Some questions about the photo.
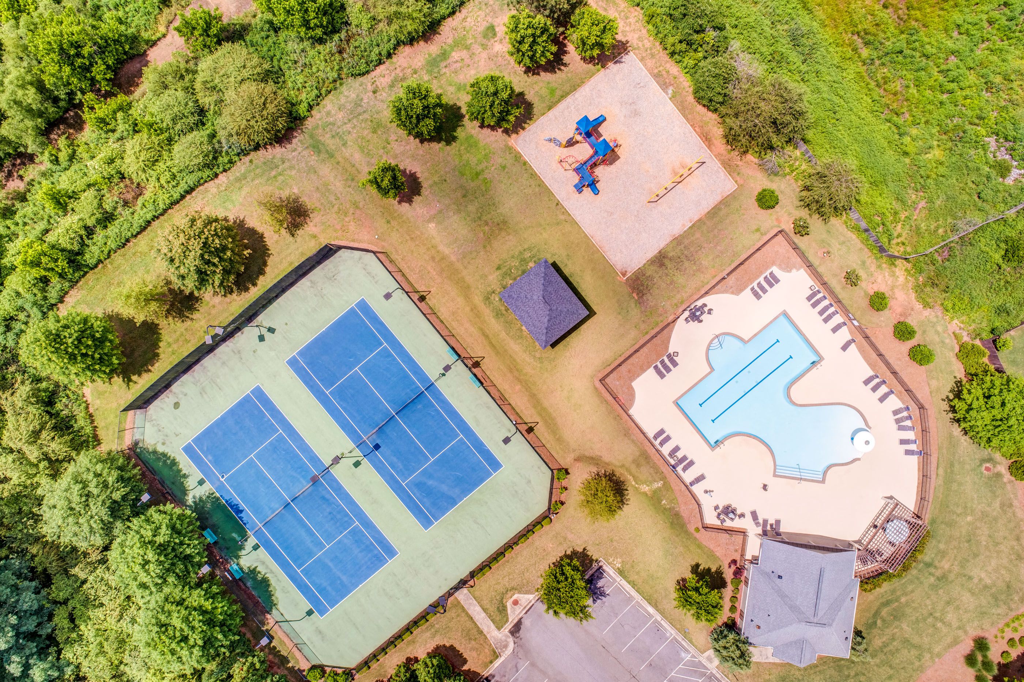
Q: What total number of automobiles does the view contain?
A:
0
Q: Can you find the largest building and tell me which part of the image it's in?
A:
bottom right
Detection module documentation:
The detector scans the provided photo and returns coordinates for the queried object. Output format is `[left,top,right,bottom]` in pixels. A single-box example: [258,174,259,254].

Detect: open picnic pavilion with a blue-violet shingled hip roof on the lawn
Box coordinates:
[499,258,589,350]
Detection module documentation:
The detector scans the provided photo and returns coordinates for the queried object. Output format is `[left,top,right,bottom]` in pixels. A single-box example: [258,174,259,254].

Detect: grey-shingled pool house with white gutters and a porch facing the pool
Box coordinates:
[738,532,861,665]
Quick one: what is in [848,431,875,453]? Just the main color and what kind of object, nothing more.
white fountain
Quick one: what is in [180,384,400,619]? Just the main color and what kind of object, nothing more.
blue tennis court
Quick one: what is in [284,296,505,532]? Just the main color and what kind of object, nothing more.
blue tennis court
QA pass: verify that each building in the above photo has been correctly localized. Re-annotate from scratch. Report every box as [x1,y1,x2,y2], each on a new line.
[499,258,589,350]
[738,532,861,665]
